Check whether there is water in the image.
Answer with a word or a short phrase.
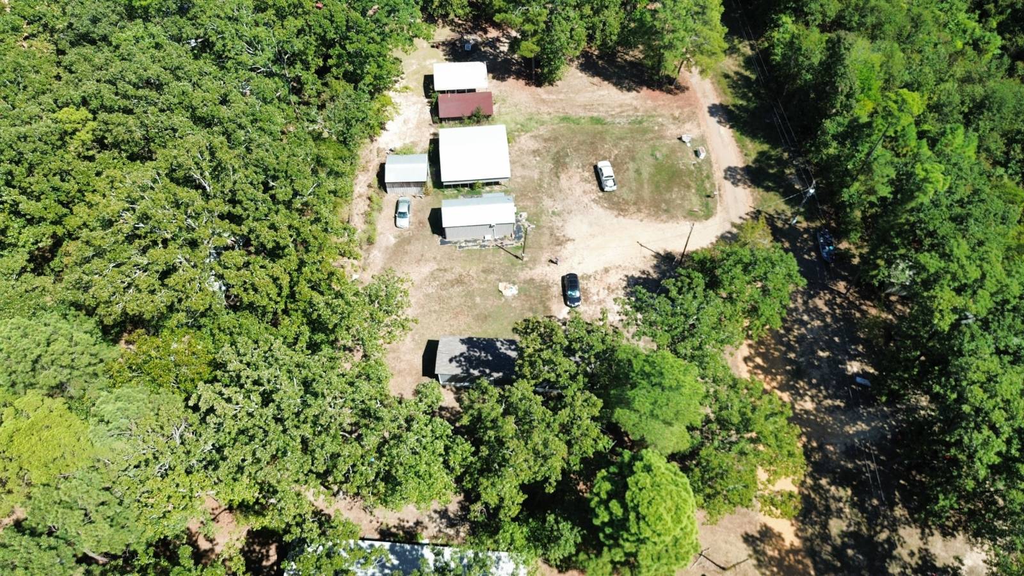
No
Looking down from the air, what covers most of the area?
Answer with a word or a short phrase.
trees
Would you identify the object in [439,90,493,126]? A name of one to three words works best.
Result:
shed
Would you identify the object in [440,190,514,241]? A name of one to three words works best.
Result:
building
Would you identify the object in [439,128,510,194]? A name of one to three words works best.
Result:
barn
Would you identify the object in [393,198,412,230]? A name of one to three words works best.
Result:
car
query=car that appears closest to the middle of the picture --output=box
[562,273,583,309]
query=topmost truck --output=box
[595,160,620,195]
